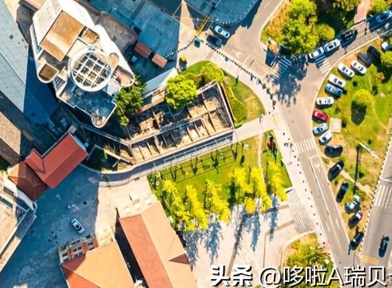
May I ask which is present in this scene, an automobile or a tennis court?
automobile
